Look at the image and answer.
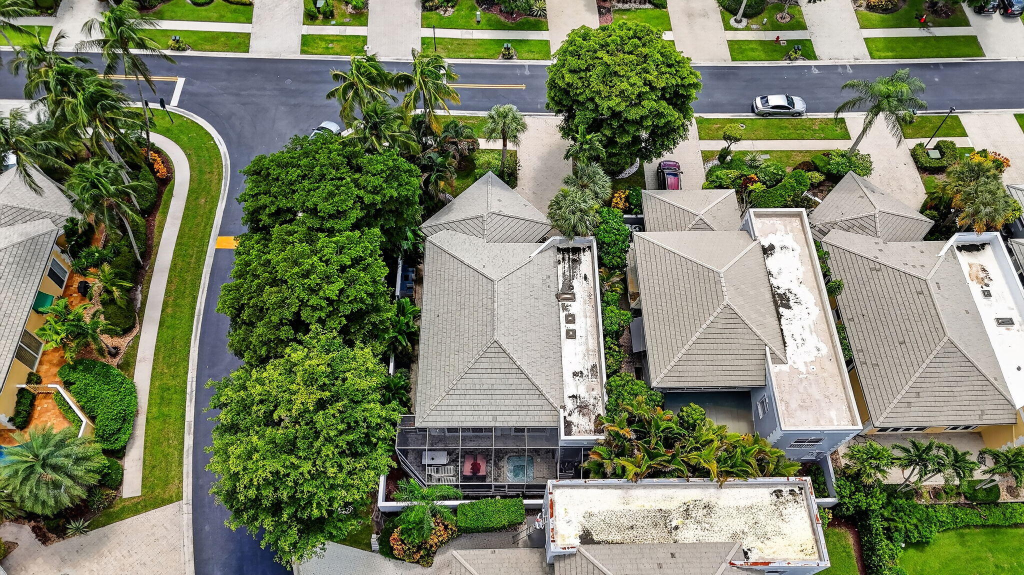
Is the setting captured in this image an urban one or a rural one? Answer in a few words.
urban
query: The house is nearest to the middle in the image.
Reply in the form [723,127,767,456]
[411,170,606,458]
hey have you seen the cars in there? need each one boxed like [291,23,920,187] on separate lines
[311,122,340,141]
[655,161,683,189]
[748,90,804,115]
[973,0,1002,12]
[1001,0,1024,14]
